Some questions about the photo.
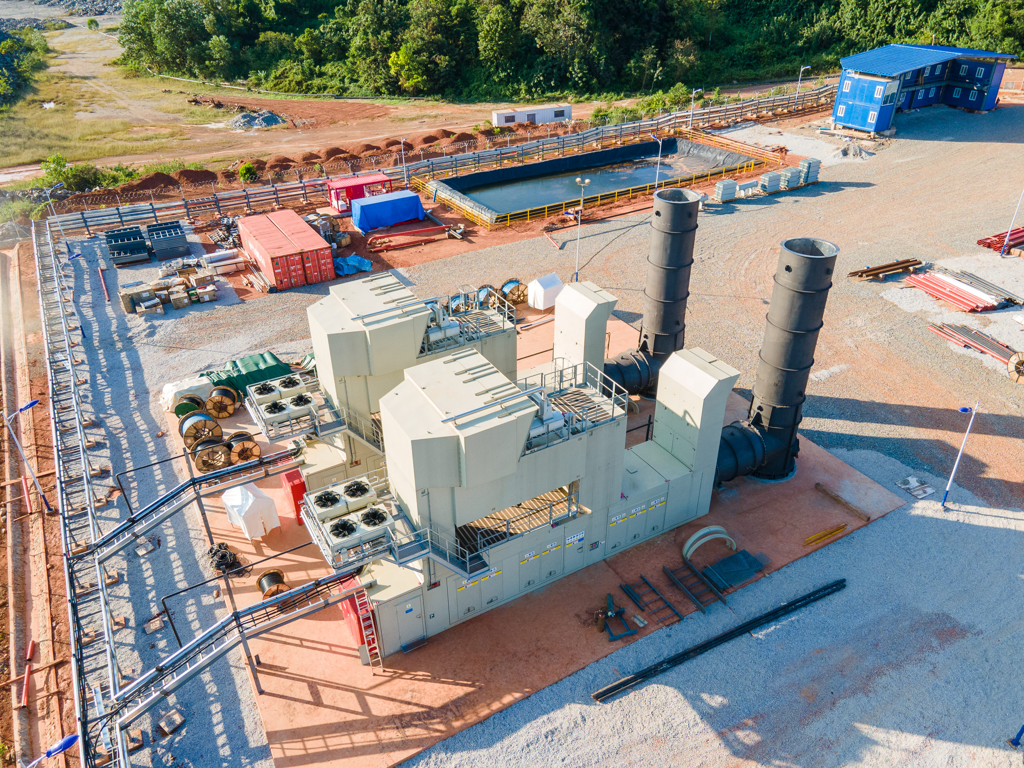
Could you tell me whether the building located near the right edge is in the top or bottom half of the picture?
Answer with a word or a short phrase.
top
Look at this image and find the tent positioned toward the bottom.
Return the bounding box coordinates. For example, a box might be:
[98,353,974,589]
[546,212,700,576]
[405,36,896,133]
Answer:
[221,479,282,547]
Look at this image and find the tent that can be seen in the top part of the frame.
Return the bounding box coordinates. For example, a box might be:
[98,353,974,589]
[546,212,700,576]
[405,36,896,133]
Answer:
[528,276,562,311]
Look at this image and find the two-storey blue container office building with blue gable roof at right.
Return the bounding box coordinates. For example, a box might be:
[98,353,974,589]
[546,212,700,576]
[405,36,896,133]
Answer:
[829,44,1018,132]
